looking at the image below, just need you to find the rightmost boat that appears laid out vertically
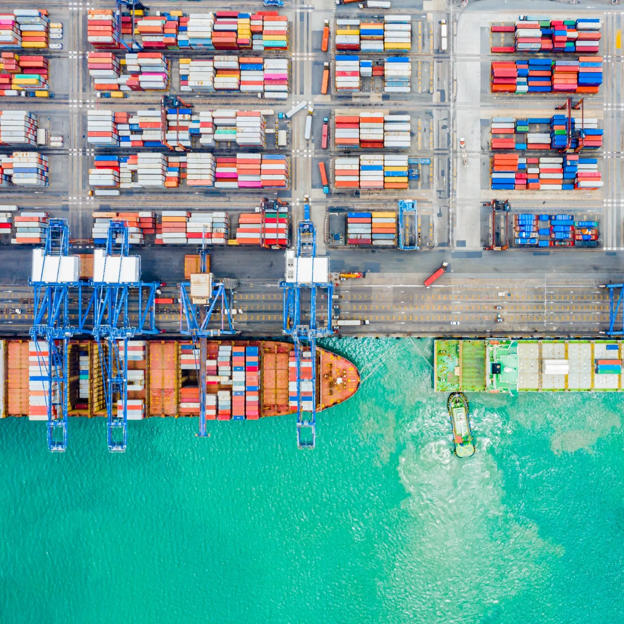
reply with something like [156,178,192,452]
[448,392,475,457]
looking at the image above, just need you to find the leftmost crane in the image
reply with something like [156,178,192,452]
[30,216,106,450]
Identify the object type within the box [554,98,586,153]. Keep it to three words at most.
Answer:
container crane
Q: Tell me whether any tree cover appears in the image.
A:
No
